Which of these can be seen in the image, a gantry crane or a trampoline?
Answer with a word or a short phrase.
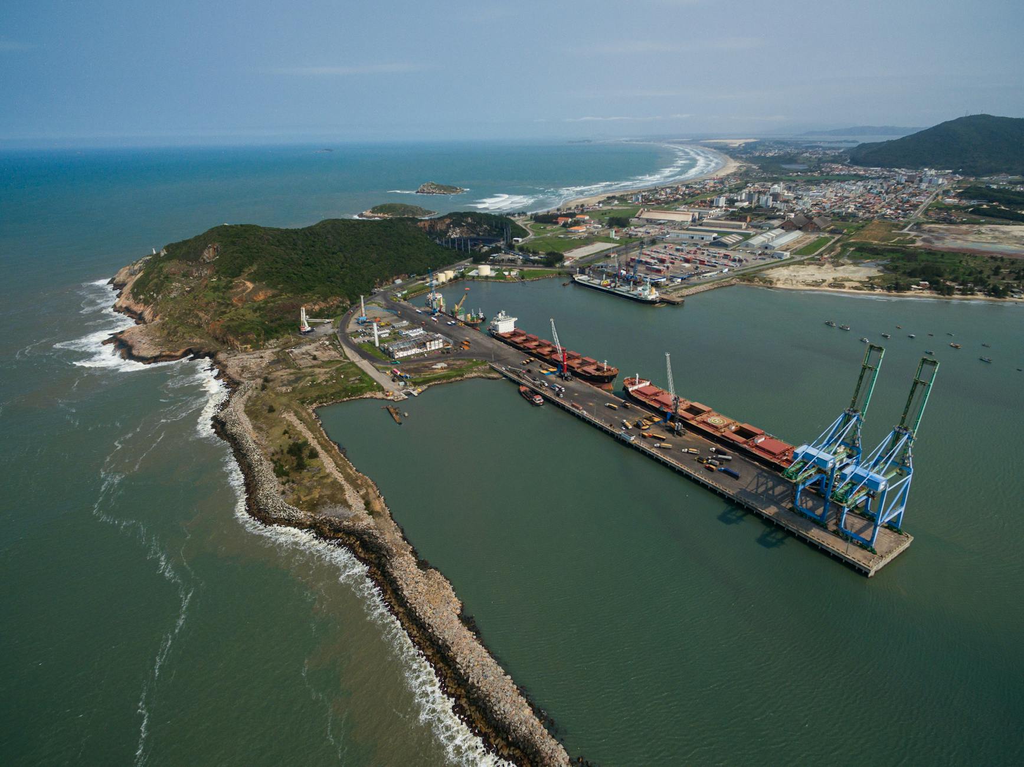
gantry crane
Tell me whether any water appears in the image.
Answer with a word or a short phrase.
Yes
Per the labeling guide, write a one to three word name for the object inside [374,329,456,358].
building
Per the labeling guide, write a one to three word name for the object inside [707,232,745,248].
building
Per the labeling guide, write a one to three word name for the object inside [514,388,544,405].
boat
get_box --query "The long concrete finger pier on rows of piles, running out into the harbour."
[490,356,916,576]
